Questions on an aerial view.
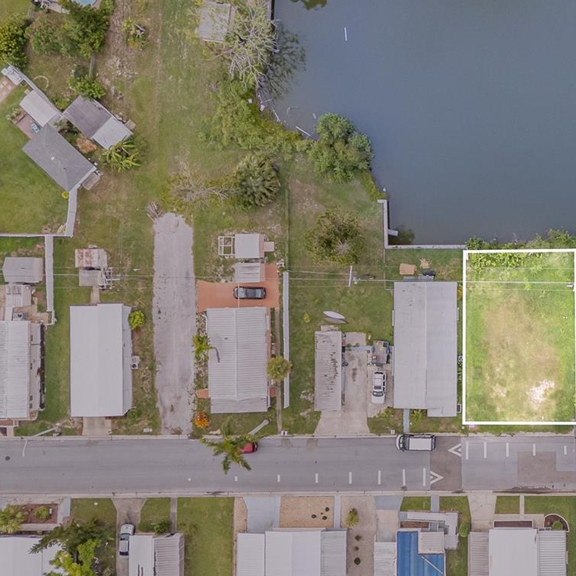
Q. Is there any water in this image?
Yes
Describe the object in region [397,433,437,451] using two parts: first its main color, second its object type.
white vehicle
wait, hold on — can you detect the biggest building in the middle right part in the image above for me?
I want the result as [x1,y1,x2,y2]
[394,276,460,416]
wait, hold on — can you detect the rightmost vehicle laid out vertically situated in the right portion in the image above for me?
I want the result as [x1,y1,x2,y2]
[371,369,387,405]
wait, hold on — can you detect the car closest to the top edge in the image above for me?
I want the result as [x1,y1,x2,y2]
[233,284,267,300]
